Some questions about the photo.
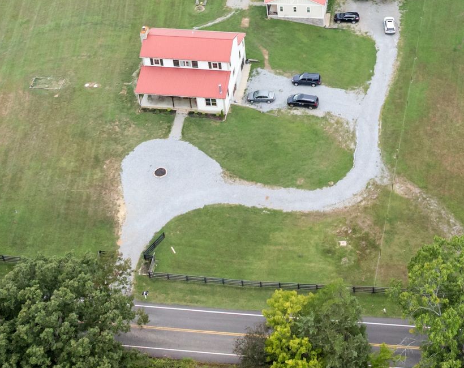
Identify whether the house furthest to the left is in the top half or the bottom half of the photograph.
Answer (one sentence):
The top half of the photo is where the house furthest to the left is.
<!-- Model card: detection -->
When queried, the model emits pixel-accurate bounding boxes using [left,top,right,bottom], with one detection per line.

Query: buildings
[263,0,328,26]
[132,18,248,115]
